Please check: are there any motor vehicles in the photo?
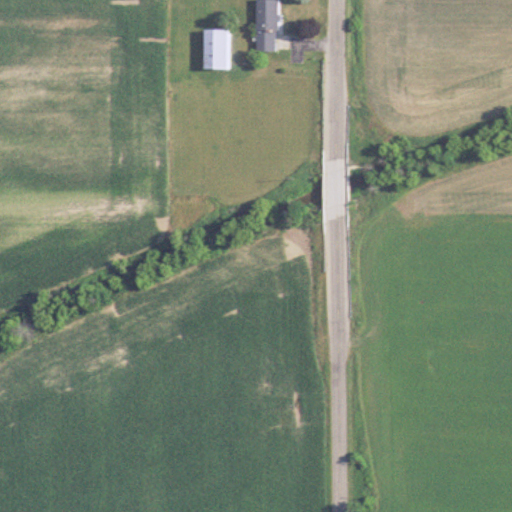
No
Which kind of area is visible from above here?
farmland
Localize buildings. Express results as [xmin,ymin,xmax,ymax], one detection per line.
[256,0,283,50]
[204,30,230,71]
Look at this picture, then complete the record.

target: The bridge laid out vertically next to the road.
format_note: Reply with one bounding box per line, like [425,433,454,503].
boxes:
[322,144,350,238]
